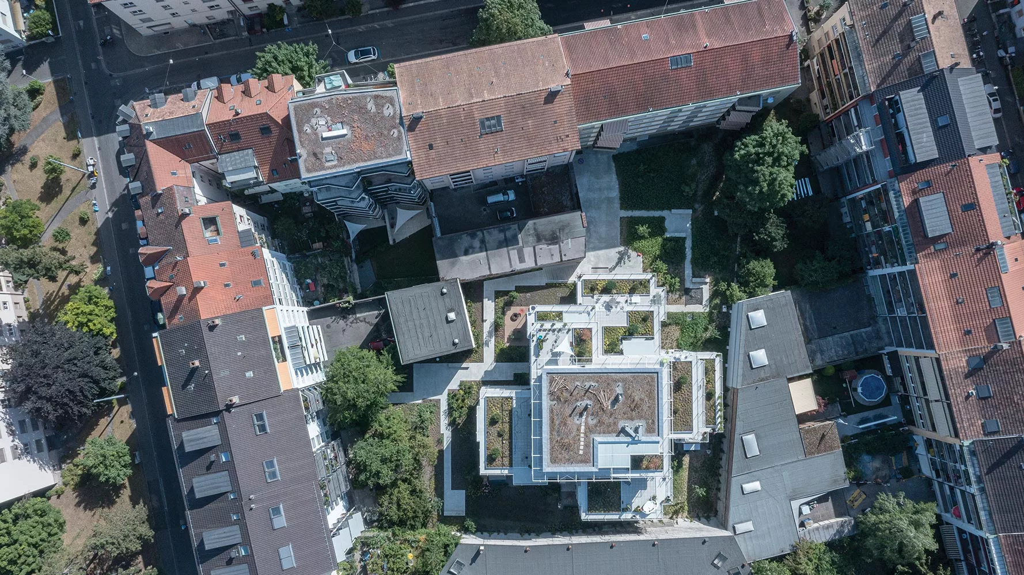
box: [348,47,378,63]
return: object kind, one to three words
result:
car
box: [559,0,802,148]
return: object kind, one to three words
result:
house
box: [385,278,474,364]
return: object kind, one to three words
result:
building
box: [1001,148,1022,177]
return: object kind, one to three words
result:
car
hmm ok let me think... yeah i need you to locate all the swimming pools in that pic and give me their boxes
[853,370,887,403]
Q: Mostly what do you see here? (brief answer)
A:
buildings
